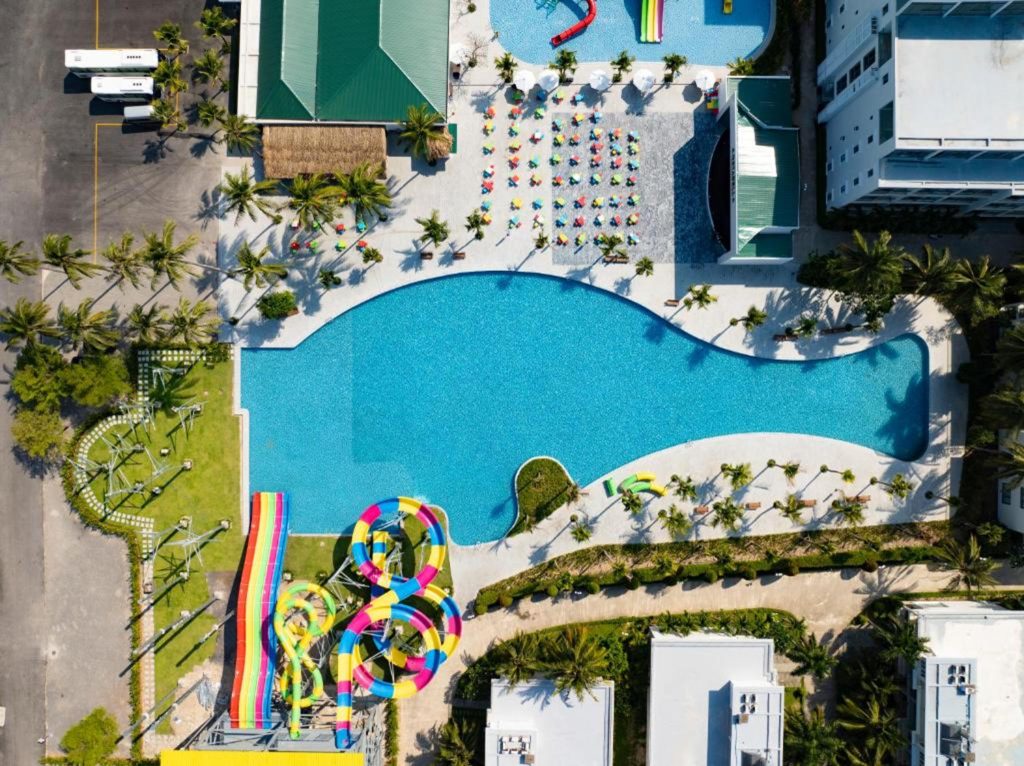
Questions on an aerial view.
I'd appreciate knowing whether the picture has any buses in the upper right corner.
No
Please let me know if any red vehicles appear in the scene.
No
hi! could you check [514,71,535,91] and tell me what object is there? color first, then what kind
white umbrella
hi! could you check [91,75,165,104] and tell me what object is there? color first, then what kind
white bus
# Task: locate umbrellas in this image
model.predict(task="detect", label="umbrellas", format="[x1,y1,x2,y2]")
[514,71,535,91]
[696,70,716,90]
[449,44,468,65]
[589,70,608,90]
[538,70,558,90]
[634,71,654,91]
